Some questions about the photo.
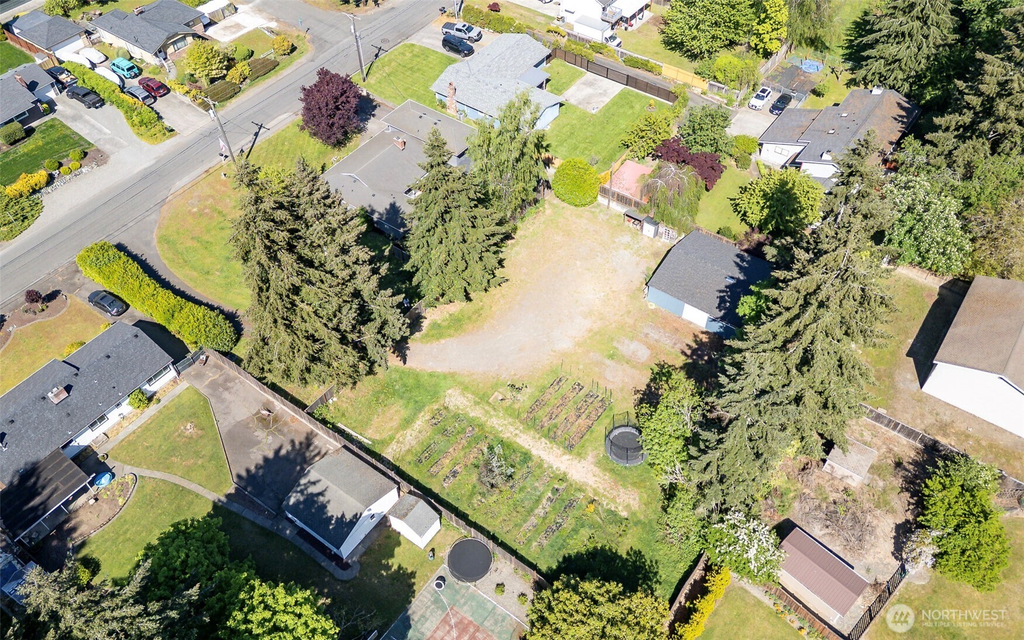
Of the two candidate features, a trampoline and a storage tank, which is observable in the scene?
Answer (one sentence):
There is a trampoline in the scene.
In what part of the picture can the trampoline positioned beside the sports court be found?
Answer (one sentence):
The trampoline positioned beside the sports court appears toward the bottom of the photo.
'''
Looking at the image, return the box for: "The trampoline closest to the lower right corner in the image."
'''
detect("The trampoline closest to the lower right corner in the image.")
[601,414,651,472]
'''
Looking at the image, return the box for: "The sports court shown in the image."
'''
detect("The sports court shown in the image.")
[381,566,534,640]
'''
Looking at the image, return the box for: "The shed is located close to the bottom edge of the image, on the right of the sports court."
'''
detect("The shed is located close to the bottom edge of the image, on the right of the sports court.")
[778,535,868,621]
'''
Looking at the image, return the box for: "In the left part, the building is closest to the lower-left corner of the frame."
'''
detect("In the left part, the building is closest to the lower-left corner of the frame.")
[2,560,61,612]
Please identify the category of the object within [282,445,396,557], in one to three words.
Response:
building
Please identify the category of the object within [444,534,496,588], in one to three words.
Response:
trampoline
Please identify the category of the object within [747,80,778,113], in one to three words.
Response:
car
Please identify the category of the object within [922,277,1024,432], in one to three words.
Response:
house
